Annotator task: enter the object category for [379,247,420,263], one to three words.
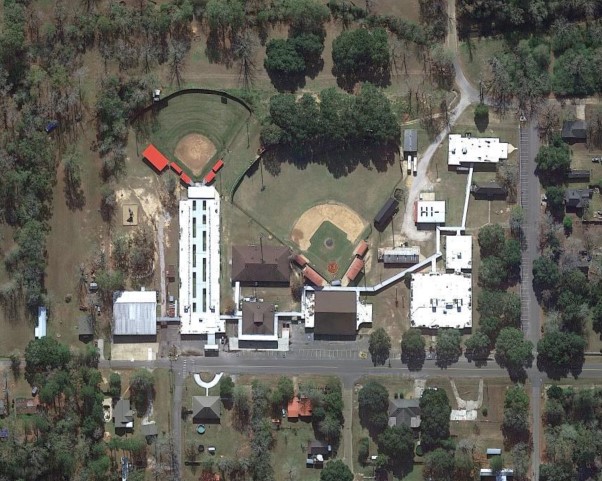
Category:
building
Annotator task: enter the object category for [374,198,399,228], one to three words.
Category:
shed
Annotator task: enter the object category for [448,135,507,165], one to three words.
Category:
building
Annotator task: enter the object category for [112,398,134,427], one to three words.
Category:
house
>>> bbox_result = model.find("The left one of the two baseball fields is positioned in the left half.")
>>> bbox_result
[140,92,249,182]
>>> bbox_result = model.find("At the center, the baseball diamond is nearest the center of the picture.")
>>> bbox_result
[233,101,403,282]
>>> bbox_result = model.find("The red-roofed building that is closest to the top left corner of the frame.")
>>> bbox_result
[142,145,169,171]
